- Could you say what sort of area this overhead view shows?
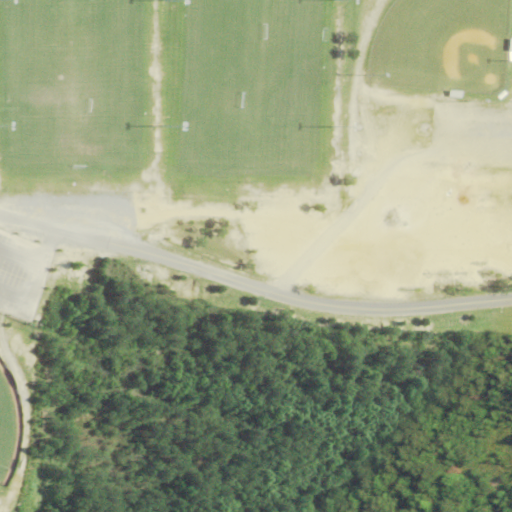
sports ground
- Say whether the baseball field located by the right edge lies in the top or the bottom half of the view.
top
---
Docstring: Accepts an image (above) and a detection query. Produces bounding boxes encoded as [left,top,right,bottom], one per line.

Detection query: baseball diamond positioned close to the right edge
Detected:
[364,0,510,102]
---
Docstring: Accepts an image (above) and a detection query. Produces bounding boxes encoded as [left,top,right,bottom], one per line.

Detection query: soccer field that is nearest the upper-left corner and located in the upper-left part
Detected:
[0,0,150,184]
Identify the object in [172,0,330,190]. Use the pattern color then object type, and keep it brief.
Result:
green soccer field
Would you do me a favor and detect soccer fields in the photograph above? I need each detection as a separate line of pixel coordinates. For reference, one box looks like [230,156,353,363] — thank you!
[172,0,330,190]
[0,0,150,184]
